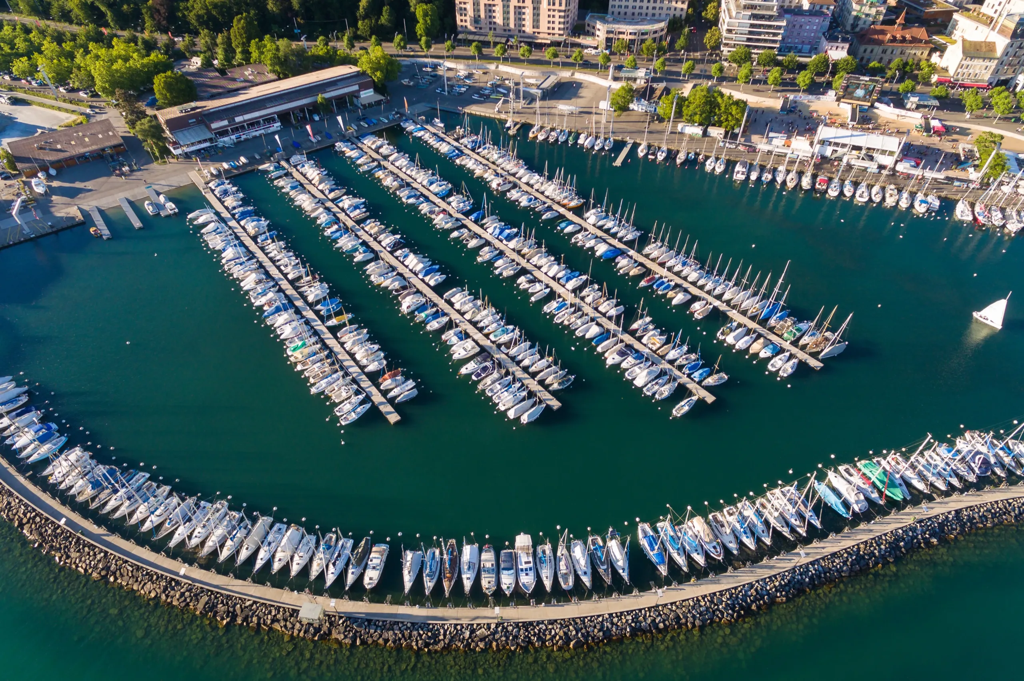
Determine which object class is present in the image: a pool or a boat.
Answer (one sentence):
The one in the frame is a boat.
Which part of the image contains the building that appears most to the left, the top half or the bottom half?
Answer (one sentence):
Seen from above, the building that appears most to the left lies in the top half of the view.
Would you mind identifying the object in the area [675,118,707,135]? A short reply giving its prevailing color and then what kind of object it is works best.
white vehicle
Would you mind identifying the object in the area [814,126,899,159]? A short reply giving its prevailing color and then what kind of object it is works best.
white tent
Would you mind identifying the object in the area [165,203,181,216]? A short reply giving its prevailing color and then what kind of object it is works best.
white boat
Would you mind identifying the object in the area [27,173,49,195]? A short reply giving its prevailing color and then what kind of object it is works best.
white boat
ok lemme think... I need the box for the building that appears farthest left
[7,119,126,178]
